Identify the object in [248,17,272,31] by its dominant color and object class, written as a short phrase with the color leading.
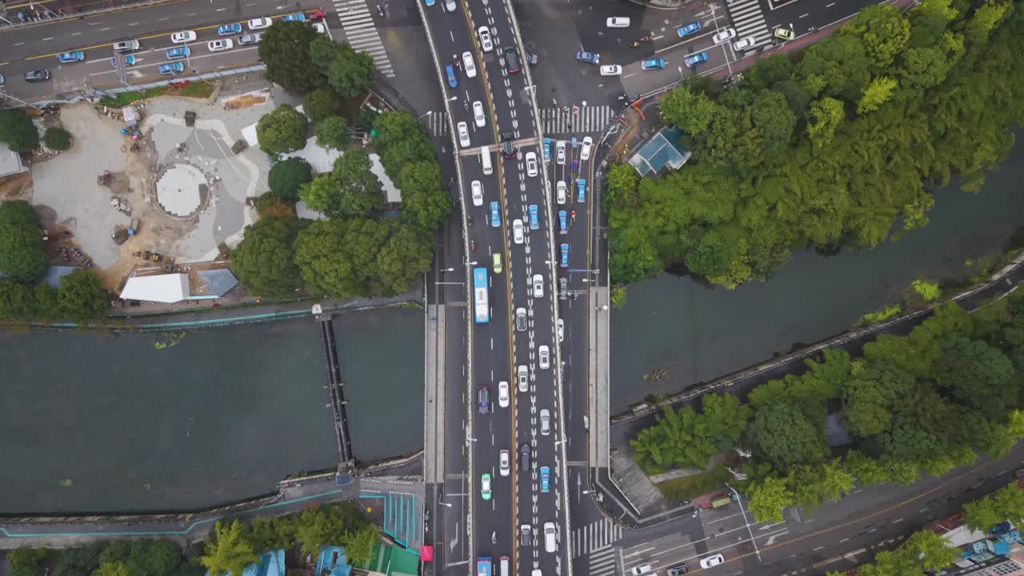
white car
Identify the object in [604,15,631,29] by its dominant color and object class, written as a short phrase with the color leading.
white vehicle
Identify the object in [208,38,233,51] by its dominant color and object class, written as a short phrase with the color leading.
white vehicle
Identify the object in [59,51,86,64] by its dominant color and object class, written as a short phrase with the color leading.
blue vehicle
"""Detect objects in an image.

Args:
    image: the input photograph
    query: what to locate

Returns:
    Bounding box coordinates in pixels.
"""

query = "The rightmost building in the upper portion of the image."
[628,126,690,177]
